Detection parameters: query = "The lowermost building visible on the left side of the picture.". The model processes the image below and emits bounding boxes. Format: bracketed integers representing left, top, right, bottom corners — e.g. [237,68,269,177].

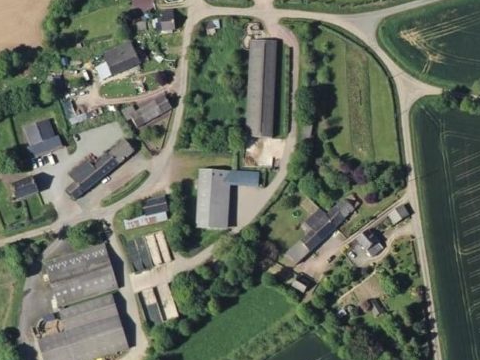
[37,296,130,360]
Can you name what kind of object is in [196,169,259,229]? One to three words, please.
barn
